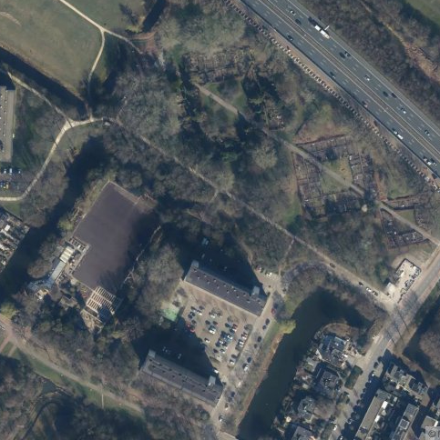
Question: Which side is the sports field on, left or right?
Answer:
left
